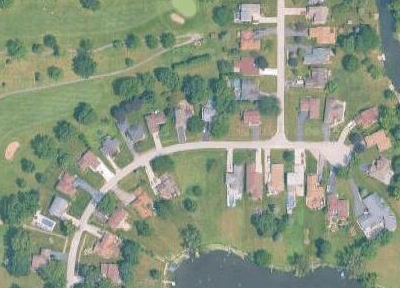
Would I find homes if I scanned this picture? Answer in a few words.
Yes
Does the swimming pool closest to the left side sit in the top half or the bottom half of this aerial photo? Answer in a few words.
bottom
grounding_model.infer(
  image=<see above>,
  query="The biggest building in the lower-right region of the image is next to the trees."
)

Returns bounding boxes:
[353,190,398,240]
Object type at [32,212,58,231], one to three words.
swimming pool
